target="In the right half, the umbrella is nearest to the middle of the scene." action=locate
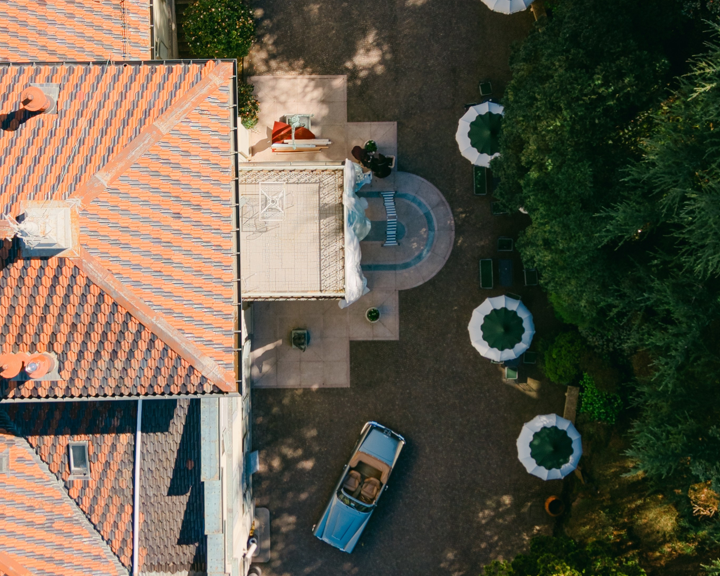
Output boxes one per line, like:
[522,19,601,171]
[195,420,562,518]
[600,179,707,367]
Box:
[468,295,531,358]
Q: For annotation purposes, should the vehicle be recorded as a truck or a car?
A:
car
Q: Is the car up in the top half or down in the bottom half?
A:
bottom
